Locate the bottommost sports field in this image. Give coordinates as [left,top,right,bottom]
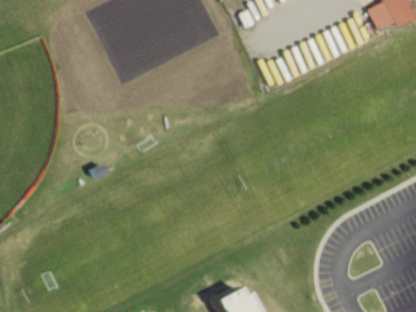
[0,134,268,312]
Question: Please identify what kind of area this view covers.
sports ground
